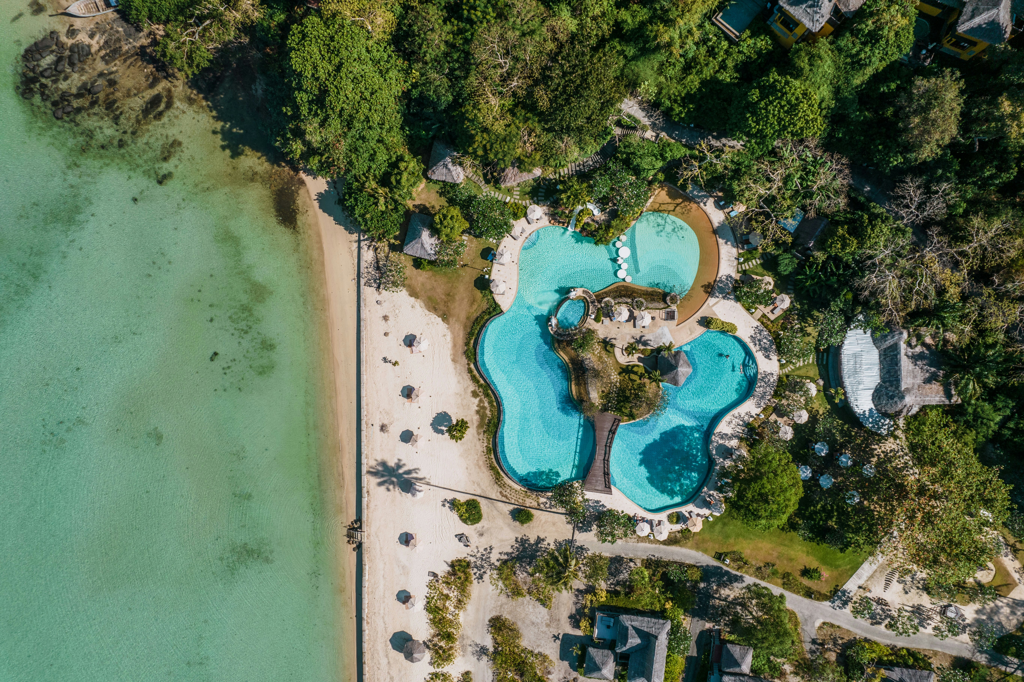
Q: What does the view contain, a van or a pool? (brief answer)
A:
pool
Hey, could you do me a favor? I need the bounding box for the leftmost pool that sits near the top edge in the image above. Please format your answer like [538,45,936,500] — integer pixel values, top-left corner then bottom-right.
[711,0,774,40]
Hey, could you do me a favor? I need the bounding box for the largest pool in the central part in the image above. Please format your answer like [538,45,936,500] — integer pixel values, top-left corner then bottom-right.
[479,211,758,513]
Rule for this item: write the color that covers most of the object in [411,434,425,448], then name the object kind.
white umbrella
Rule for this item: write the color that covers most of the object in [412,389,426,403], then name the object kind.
white umbrella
